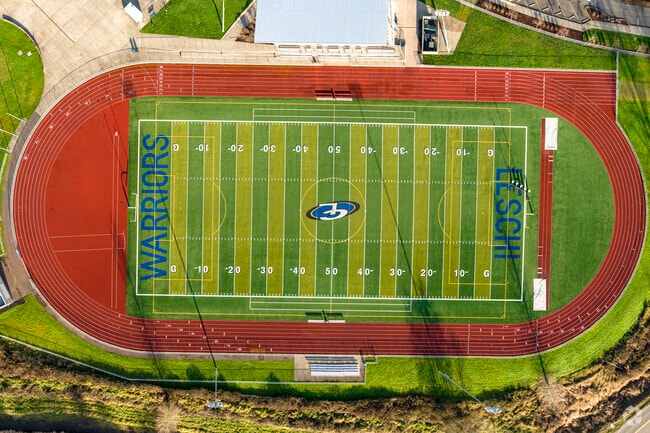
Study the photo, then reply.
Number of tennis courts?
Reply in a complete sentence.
No tennis courts are visible.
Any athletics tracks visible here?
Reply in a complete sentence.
Yes, there's an athletics track here.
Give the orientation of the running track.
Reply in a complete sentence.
From this overhead view, the running track appears to run from left to right.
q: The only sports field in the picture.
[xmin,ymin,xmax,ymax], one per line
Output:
[127,96,614,325]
